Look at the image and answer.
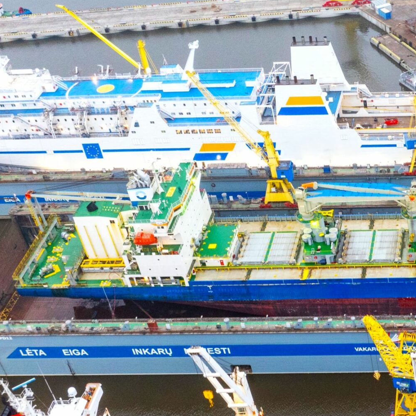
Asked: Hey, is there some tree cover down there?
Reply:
No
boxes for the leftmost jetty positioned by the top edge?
[0,0,358,41]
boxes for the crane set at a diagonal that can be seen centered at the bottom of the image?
[184,339,264,416]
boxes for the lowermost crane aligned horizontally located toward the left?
[25,168,135,232]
